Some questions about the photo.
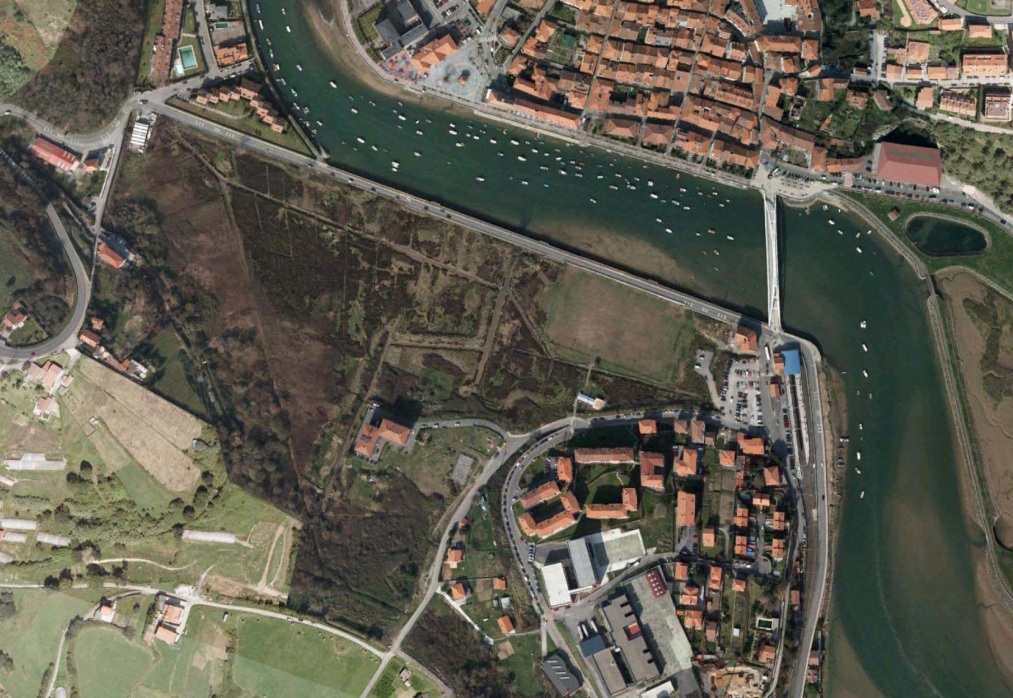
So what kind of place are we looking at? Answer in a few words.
residential area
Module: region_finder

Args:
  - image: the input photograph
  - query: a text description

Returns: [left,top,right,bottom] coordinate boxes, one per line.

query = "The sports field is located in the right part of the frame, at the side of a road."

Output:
[540,265,688,383]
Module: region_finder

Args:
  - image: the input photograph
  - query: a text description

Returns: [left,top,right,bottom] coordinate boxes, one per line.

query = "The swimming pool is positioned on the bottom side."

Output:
[756,617,779,630]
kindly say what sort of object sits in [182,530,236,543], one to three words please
greenhouse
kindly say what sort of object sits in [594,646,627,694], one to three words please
building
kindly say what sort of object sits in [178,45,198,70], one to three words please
swimming pool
